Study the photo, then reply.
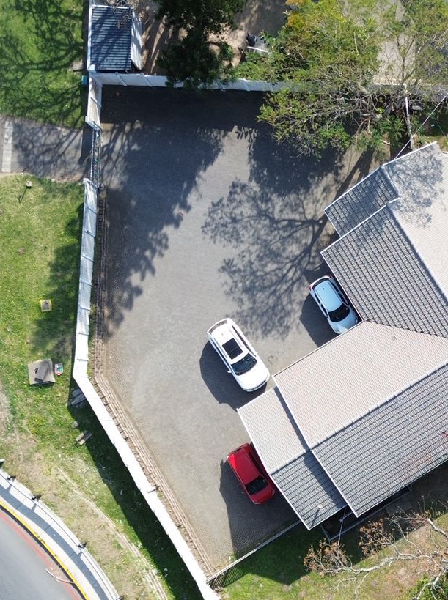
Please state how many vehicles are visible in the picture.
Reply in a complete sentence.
The count of vehicles comes to 3.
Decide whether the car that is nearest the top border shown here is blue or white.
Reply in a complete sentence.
The color of the car that is nearest the top border is blue.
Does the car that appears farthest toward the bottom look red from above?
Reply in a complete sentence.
Yes, the car that appears farthest toward the bottom is red.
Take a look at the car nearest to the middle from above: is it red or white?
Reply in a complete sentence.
The car nearest to the middle is white.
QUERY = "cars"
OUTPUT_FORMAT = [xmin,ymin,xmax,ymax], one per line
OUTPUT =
[210,319,268,393]
[307,274,356,334]
[225,442,274,503]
